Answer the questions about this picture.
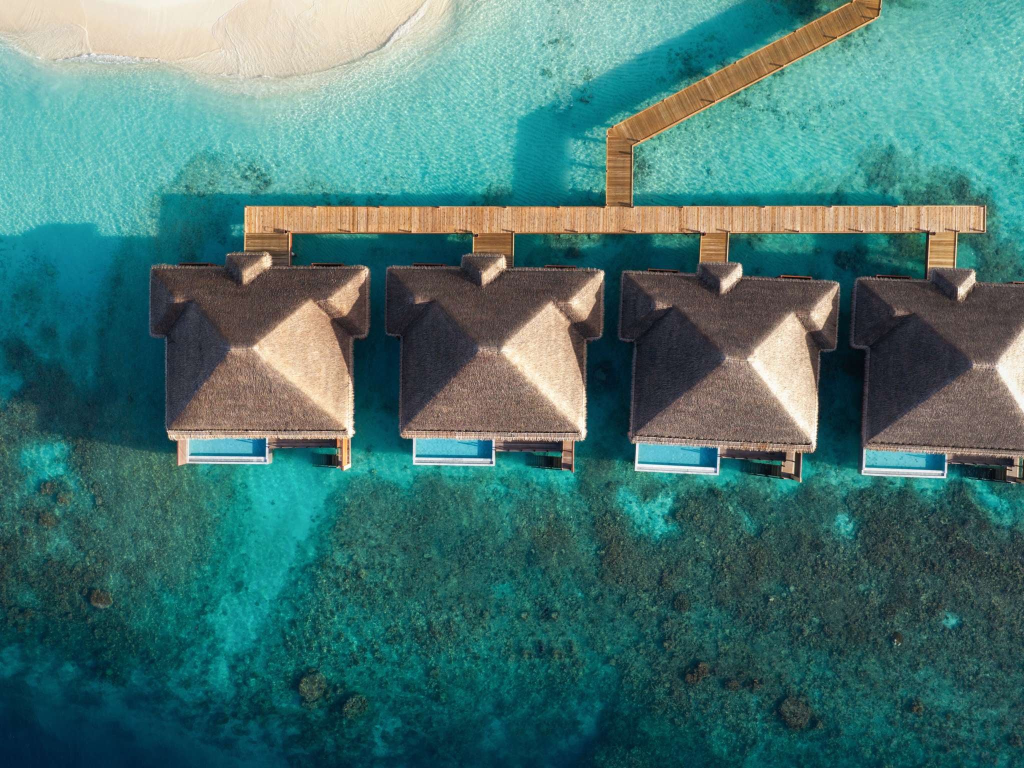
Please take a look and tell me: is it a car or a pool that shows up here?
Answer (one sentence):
I can see a pool in this picture.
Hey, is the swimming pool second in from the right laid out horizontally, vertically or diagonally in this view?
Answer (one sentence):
Seen from above, the swimming pool second in from the right lies horizontally.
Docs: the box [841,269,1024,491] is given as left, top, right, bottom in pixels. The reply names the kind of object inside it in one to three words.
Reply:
house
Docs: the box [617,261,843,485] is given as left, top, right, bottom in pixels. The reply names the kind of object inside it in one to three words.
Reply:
house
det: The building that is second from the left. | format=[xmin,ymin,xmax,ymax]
[381,253,607,474]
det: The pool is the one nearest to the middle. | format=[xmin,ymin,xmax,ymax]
[412,437,498,466]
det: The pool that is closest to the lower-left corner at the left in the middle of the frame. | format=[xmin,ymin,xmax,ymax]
[188,438,273,466]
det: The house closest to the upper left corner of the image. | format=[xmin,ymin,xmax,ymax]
[148,253,372,473]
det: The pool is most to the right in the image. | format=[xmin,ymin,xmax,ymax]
[858,434,952,482]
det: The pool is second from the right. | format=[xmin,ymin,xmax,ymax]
[635,443,725,474]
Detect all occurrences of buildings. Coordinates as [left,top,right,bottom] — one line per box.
[617,261,843,485]
[841,269,1024,491]
[148,253,372,473]
[381,253,607,474]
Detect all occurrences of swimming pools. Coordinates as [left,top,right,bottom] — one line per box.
[858,434,952,482]
[188,438,273,466]
[412,437,498,466]
[635,443,725,474]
